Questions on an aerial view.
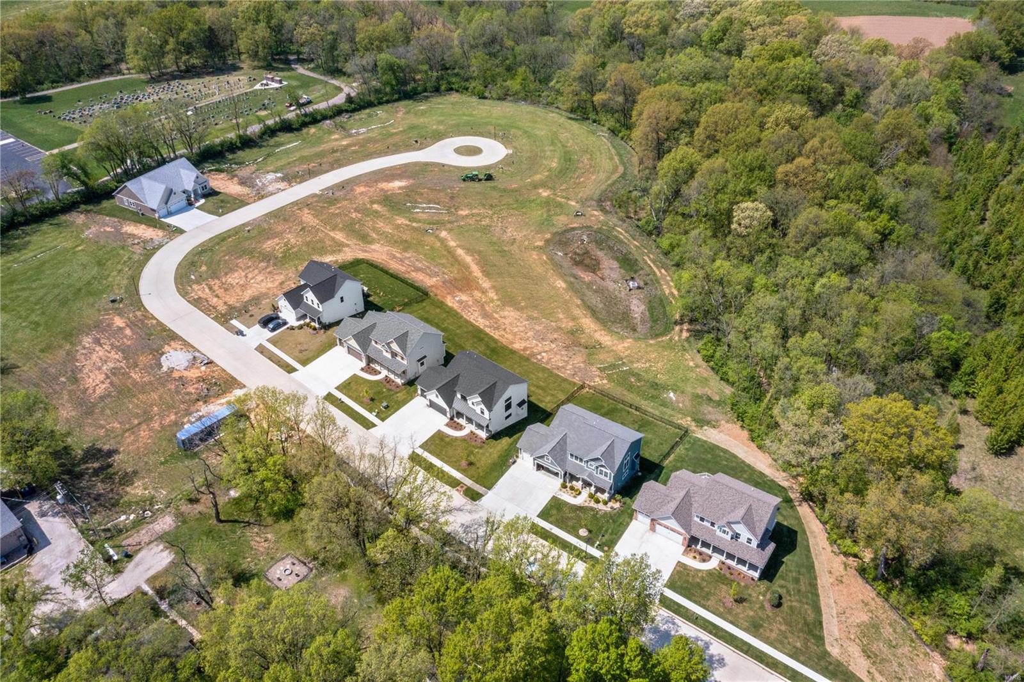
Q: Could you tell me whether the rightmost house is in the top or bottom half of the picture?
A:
bottom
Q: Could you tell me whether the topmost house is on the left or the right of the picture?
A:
left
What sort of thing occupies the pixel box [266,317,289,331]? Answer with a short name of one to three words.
car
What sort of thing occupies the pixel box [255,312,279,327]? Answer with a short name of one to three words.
car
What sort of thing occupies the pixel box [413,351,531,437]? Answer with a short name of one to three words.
house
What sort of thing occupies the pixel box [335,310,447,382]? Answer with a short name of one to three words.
house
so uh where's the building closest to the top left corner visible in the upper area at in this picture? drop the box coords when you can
[113,158,213,219]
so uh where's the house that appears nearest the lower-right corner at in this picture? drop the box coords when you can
[631,468,784,578]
